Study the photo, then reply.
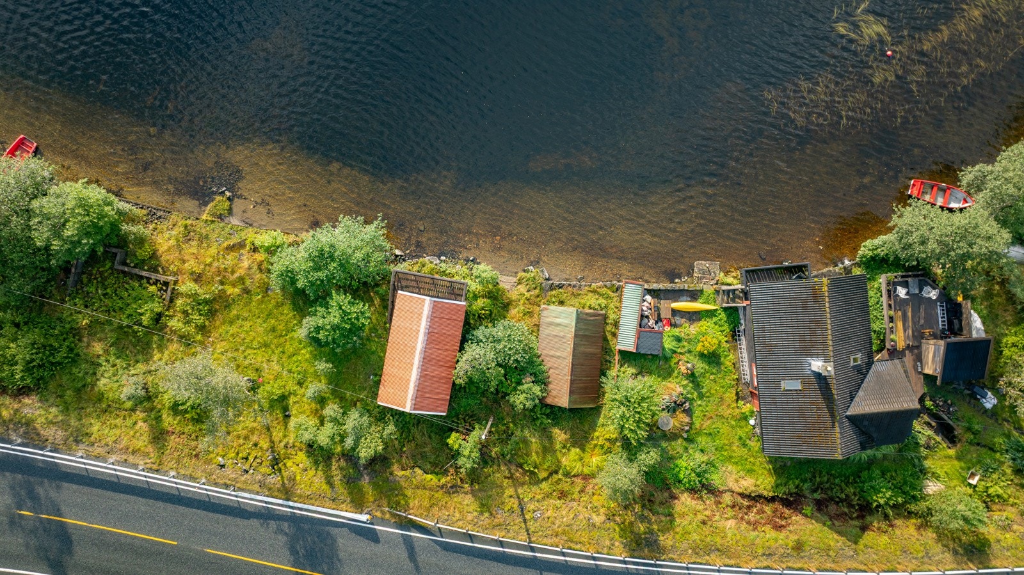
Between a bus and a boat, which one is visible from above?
boat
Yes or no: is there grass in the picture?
Yes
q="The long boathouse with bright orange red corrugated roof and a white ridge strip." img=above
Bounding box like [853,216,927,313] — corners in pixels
[376,268,468,417]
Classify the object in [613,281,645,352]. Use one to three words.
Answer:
shed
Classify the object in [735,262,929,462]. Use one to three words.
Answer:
house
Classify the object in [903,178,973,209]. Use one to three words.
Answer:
boat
